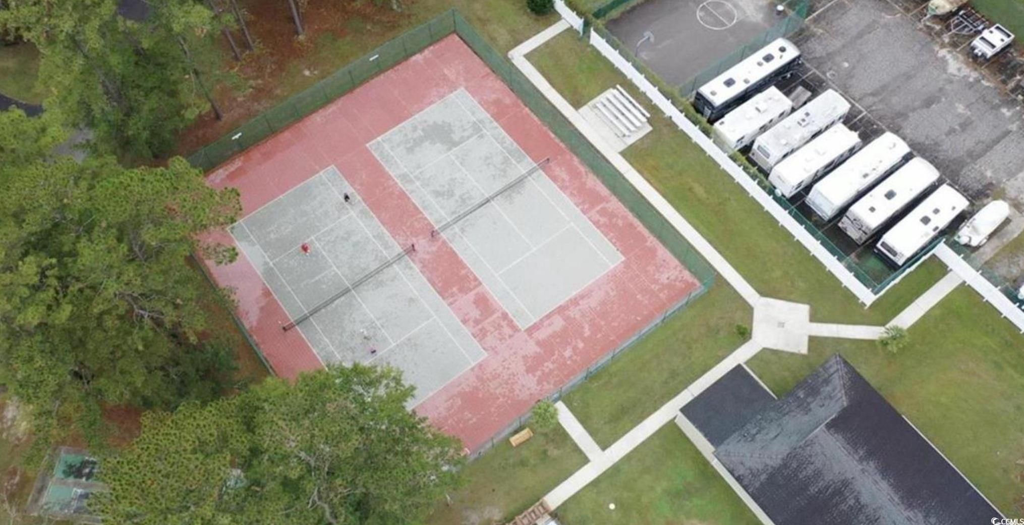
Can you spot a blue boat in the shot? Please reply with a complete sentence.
No, no blue boat is visible in the view.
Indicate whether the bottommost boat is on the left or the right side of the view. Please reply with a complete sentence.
The bottommost boat sits on the right side.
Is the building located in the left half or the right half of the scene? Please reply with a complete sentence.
The building sits on the right side.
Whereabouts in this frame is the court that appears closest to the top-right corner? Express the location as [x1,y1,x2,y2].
[602,0,824,95]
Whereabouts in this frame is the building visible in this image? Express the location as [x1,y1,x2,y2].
[673,353,1017,525]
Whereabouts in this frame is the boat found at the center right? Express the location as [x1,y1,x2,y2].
[954,204,1009,252]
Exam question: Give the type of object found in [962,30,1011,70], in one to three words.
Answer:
trailer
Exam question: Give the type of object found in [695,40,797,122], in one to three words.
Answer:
camper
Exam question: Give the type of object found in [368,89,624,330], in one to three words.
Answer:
tennis court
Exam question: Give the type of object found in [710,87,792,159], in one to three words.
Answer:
trailer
